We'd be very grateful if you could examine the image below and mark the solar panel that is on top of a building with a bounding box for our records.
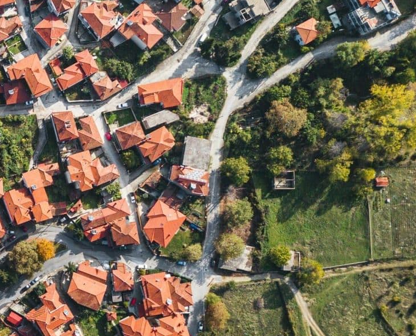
[175,168,203,190]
